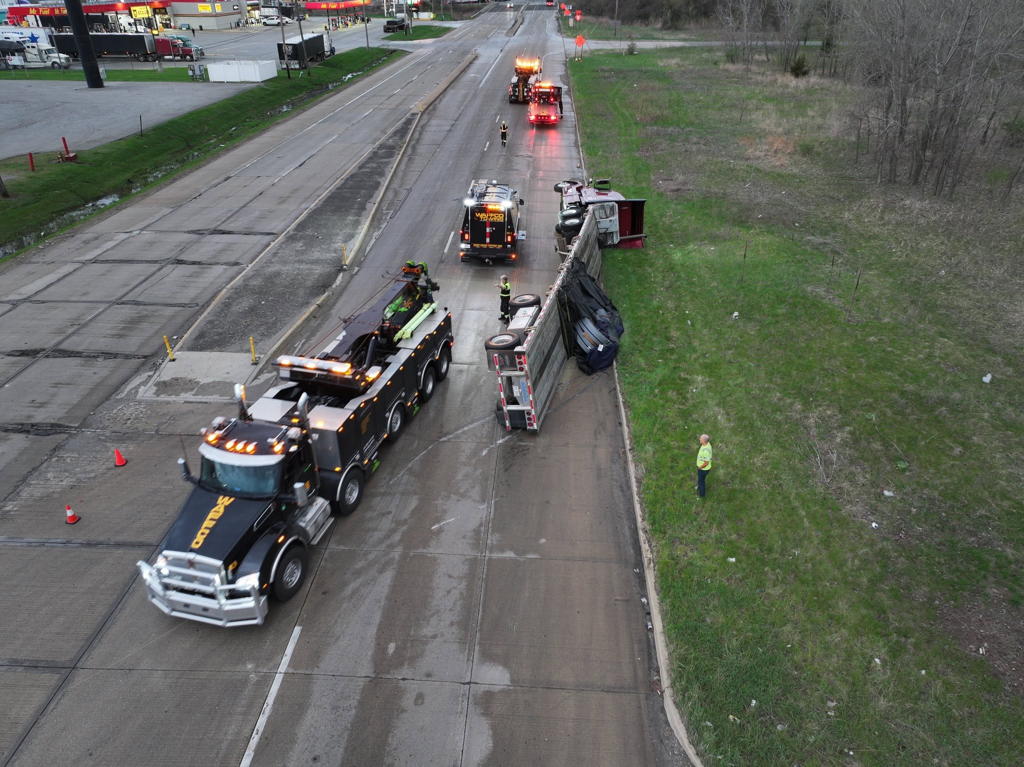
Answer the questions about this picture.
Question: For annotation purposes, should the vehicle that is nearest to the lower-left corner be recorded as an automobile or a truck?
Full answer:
In the photo, the vehicle that is nearest to the lower-left corner shows up as a truck.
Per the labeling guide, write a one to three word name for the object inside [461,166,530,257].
truck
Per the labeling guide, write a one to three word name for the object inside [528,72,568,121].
truck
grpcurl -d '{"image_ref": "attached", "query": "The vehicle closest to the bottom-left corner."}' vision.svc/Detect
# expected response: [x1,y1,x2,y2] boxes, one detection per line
[138,253,456,631]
